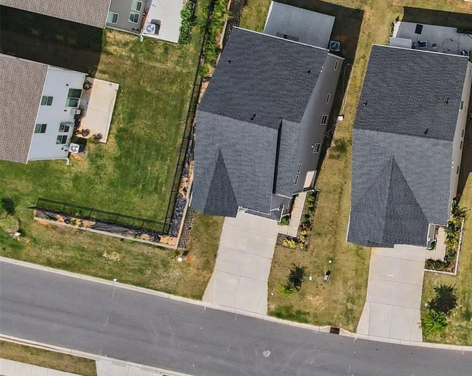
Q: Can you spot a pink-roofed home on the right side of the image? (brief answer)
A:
No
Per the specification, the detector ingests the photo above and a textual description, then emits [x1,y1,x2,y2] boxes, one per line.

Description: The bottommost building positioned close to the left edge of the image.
[0,55,87,163]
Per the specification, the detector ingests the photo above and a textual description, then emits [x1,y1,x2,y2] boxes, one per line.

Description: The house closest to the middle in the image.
[187,25,345,226]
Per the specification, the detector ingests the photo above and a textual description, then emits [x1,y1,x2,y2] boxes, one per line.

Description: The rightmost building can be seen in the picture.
[346,42,472,250]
